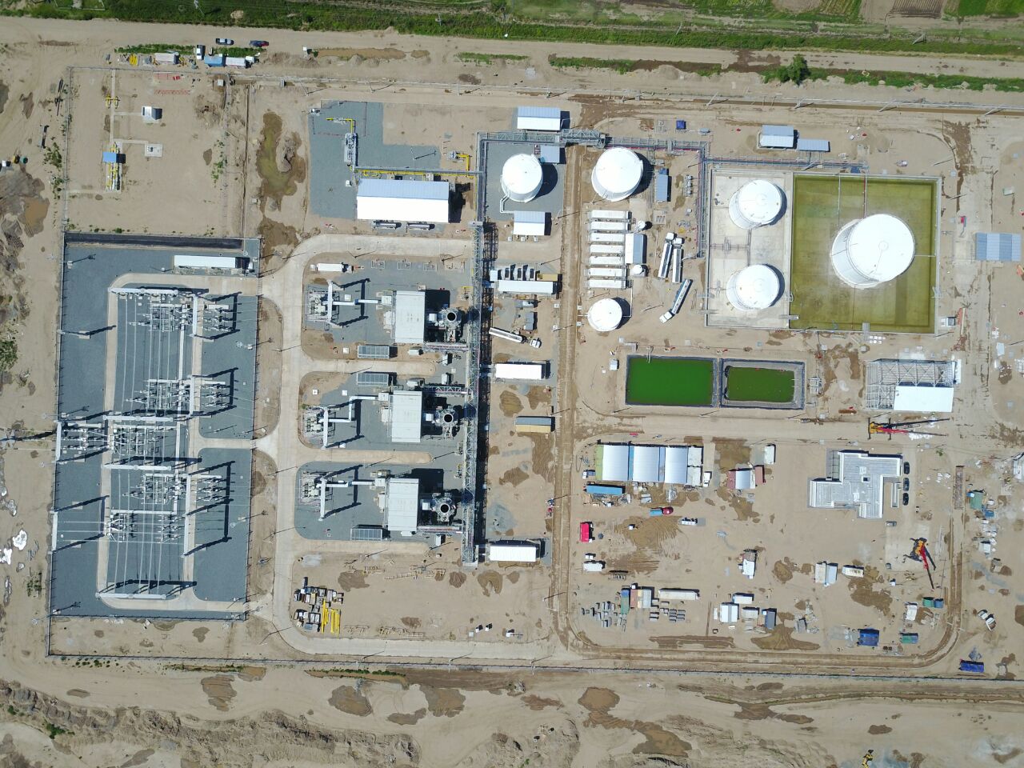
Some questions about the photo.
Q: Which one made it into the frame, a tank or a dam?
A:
tank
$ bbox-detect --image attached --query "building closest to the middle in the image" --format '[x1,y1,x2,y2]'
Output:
[495,362,542,380]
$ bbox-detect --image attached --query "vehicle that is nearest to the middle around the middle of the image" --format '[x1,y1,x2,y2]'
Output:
[489,327,540,348]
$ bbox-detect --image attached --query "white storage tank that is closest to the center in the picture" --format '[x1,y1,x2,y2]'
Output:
[586,298,623,333]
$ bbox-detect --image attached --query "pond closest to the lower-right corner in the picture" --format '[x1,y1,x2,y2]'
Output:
[718,359,805,409]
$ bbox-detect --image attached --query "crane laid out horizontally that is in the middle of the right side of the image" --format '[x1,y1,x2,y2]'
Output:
[865,416,950,440]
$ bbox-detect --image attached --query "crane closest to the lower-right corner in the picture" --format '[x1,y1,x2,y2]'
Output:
[902,534,936,590]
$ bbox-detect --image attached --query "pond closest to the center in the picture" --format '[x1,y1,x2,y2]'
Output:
[626,347,714,407]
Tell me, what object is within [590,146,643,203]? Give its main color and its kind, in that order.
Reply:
white storage tank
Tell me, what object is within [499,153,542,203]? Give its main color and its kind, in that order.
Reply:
white storage tank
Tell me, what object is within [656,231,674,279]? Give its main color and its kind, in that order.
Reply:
white vehicle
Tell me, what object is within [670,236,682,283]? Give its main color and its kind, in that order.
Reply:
white vehicle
